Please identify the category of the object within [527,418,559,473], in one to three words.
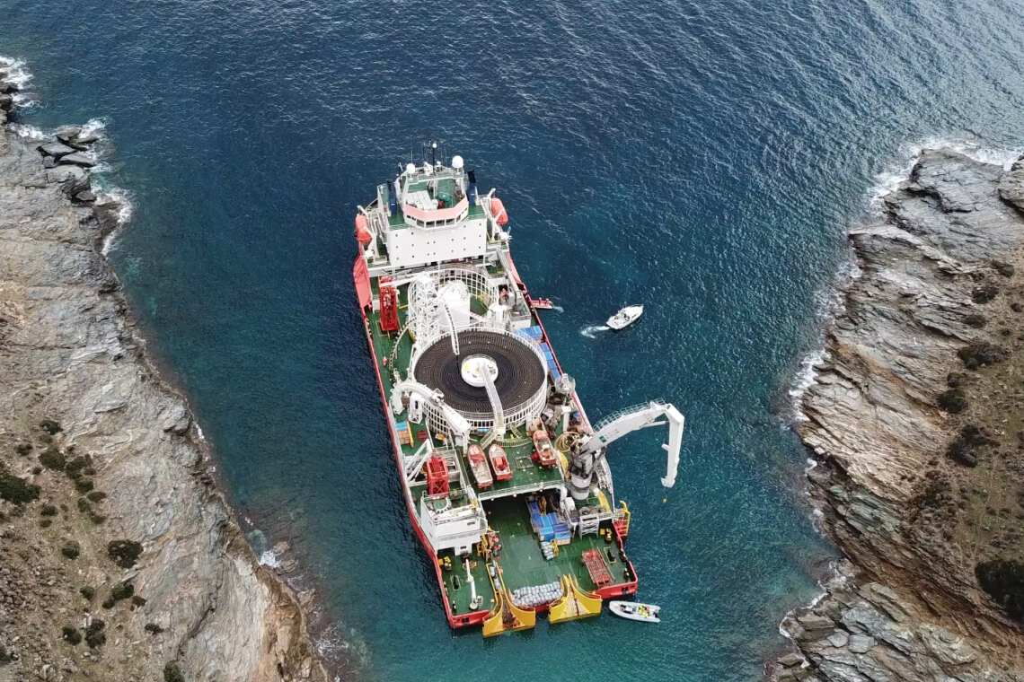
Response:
boat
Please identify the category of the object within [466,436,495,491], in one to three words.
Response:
boat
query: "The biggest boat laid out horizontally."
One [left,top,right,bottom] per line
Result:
[609,600,666,621]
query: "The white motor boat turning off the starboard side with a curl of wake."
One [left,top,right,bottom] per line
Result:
[608,301,643,327]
